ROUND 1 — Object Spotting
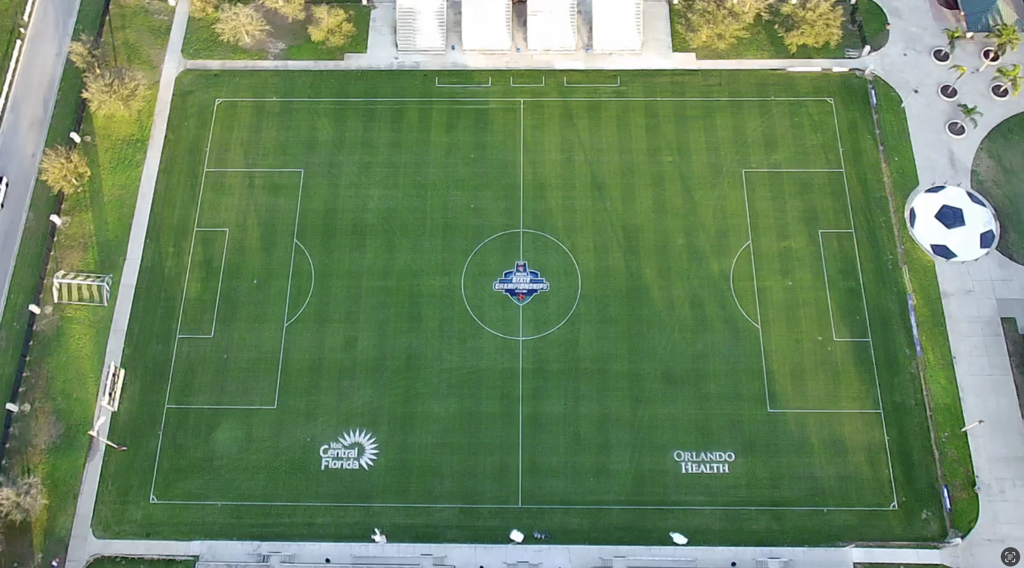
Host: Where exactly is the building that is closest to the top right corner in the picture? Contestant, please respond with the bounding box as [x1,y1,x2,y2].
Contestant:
[958,0,1013,40]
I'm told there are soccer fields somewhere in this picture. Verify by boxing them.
[91,70,946,548]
